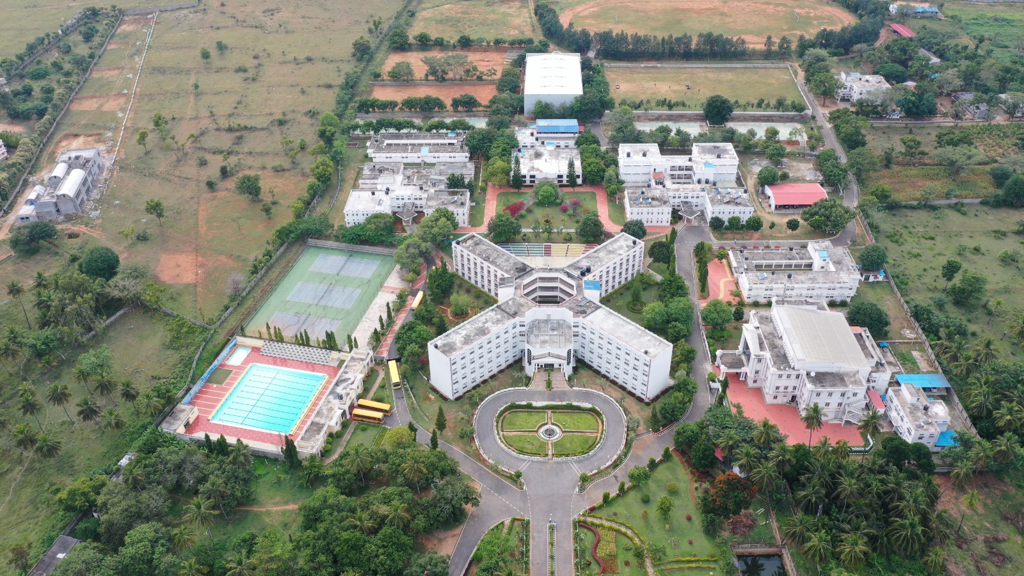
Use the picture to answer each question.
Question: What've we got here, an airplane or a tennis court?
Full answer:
The image shows a tennis court.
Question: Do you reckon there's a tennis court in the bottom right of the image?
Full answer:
No, no tennis court is visible in the bottom right of the image.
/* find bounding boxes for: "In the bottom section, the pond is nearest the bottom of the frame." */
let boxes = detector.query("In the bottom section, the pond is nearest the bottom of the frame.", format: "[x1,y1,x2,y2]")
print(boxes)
[730,542,799,576]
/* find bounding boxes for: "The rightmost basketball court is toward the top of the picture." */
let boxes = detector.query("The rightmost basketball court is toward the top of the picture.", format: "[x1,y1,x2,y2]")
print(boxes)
[727,123,807,139]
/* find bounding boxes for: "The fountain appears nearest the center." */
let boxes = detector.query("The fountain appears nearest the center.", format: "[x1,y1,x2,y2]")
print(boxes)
[539,423,562,440]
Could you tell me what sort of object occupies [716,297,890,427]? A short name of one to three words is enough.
building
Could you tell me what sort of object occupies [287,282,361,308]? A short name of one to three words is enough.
tennis court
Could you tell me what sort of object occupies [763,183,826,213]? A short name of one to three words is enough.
shed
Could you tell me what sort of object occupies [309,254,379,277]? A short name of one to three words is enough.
tennis court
